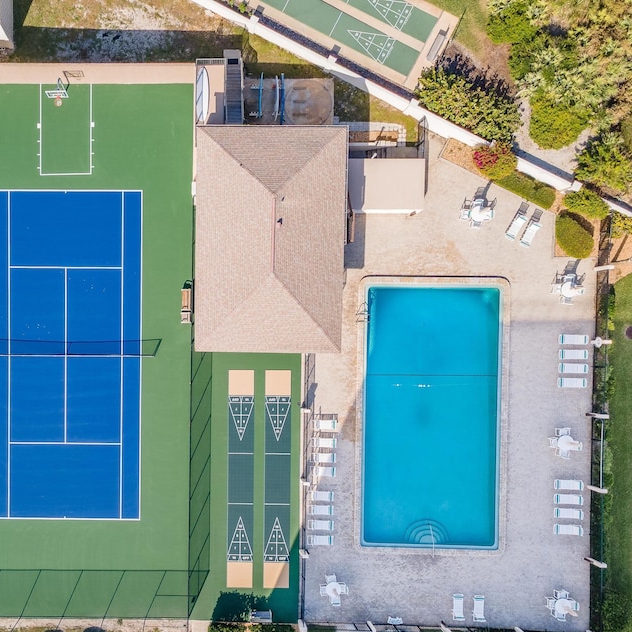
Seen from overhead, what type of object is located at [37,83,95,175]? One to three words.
basketball court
